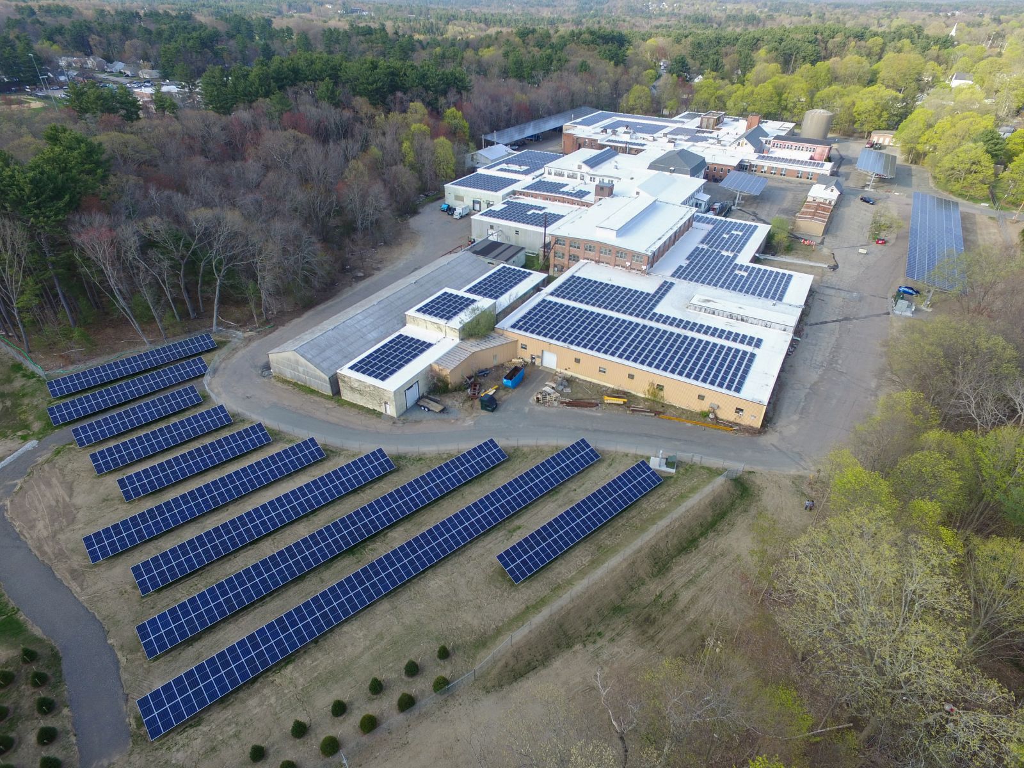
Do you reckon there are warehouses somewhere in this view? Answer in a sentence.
Yes, looking at the shot, I can spot a warehouse.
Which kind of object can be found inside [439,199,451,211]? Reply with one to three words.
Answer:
vehicle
